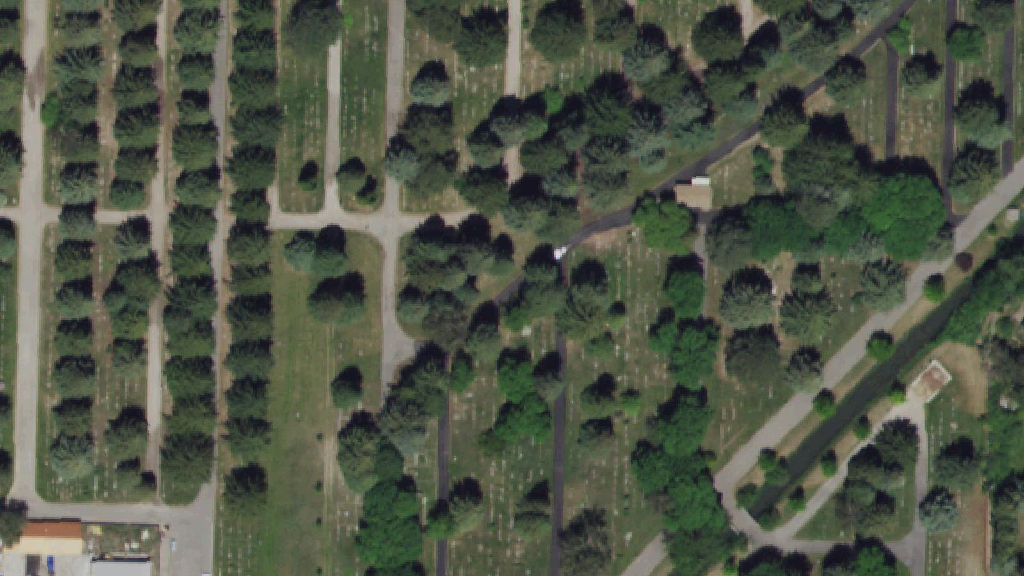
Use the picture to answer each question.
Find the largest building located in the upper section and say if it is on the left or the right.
right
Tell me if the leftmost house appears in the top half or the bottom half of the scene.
bottom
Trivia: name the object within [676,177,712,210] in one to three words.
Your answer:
building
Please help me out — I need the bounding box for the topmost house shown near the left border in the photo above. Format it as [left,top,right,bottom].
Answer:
[17,522,81,554]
